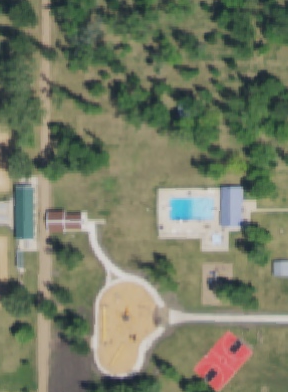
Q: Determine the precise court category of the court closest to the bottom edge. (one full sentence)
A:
It looks like the court closest to the bottom edge is a basketball court.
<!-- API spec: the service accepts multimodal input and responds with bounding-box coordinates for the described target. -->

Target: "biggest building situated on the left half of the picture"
[14,185,34,238]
